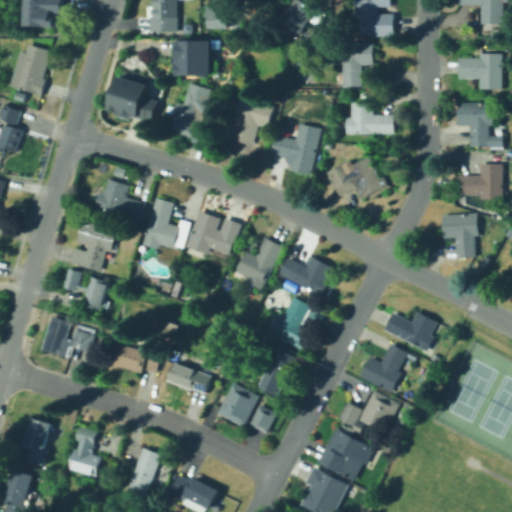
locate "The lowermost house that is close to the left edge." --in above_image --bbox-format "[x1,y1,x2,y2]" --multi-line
[2,472,32,512]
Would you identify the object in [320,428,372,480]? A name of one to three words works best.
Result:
house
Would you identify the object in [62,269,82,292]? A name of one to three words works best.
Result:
building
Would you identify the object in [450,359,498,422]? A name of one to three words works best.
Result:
tennis court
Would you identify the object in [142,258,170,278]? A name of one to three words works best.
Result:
swimming pool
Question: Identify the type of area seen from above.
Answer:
residential area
